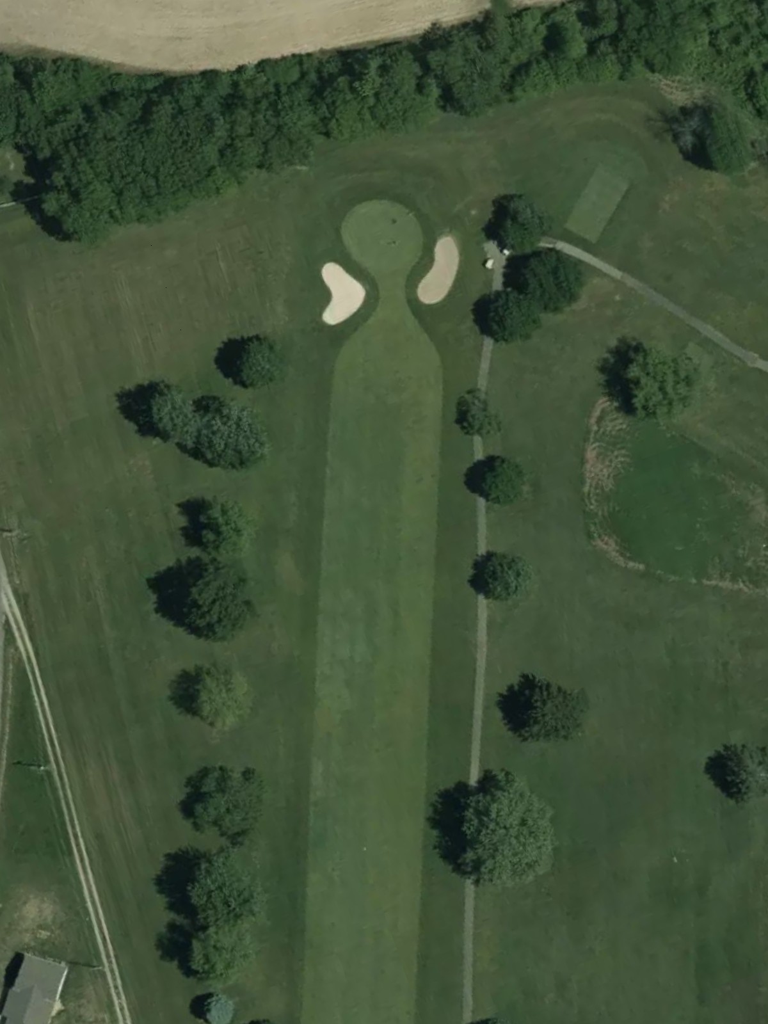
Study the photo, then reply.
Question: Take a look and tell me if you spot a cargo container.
No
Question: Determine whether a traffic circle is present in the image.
No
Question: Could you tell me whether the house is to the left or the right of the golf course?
on the left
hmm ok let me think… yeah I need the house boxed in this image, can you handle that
[3,953,68,1024]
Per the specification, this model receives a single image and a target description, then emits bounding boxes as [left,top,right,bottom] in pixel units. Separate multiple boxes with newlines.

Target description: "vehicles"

[502,246,511,256]
[485,257,494,269]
